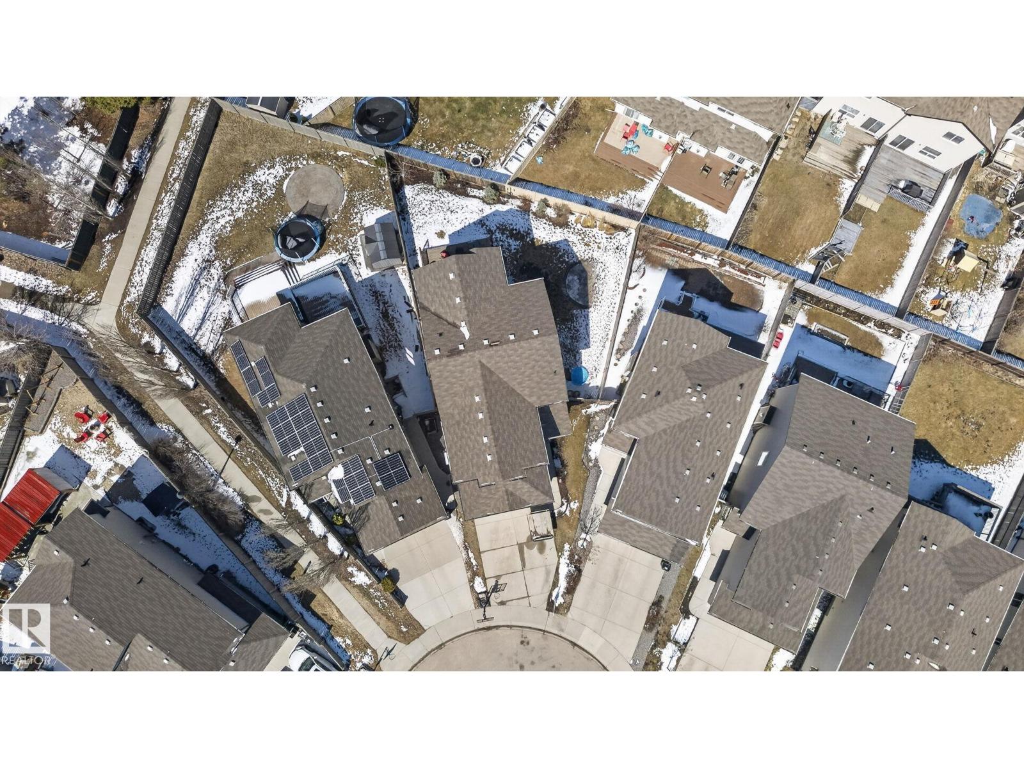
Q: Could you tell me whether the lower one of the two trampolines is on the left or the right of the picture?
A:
left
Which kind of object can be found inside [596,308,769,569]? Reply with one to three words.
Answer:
house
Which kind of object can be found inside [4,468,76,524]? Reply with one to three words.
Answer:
gazebo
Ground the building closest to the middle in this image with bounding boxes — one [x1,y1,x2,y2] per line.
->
[412,246,574,520]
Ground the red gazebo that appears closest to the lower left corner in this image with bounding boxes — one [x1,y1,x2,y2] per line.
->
[0,503,41,562]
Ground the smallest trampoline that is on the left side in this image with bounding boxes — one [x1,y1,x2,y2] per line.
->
[269,205,326,266]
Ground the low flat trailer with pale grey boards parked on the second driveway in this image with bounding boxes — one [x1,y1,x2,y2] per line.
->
[527,509,554,541]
